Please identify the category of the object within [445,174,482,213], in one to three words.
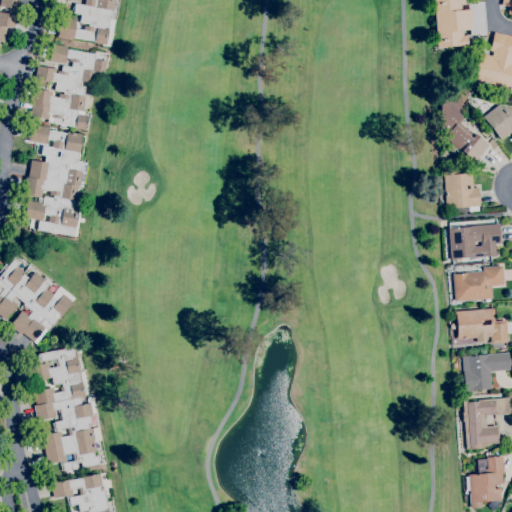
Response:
house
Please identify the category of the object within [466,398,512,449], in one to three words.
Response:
house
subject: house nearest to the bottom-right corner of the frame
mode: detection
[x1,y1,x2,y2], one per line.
[466,456,505,506]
